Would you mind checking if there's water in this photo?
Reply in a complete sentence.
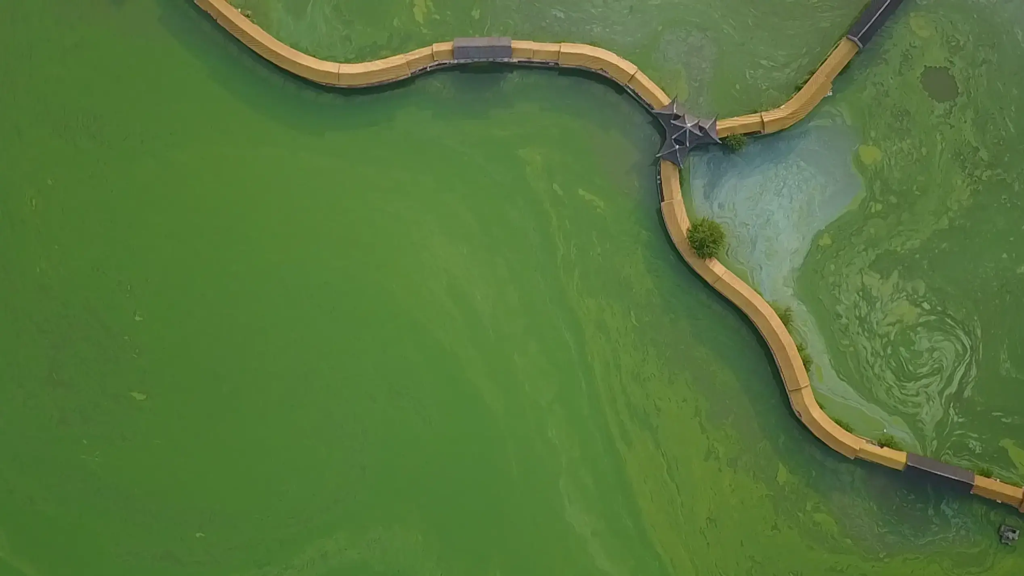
Yes, there is water in the image.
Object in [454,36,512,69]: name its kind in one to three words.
building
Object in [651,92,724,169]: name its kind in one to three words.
building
